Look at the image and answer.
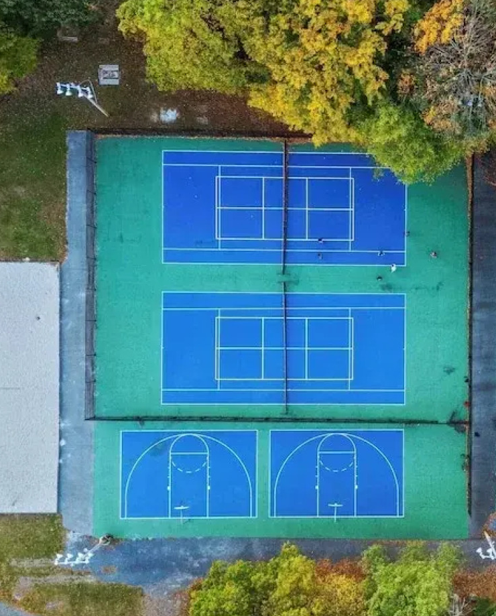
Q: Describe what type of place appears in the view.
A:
sports ground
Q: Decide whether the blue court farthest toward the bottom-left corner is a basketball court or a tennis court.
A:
basketball court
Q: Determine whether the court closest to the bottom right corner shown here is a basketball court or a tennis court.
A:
basketball court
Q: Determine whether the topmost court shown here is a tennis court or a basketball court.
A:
tennis court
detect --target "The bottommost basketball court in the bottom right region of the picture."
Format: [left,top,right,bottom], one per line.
[263,419,468,540]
